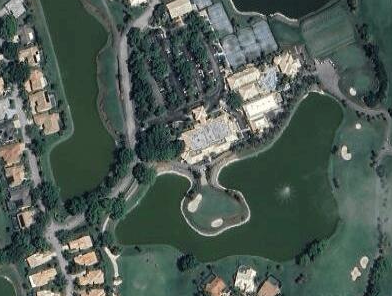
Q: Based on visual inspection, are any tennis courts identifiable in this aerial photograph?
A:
Yes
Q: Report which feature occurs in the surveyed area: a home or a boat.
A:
home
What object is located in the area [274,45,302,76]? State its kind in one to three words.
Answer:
building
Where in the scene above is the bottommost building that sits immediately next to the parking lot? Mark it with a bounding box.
[181,110,242,167]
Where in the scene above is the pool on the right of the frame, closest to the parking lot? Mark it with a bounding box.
[259,71,277,89]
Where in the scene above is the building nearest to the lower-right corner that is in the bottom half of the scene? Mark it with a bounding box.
[257,273,283,296]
